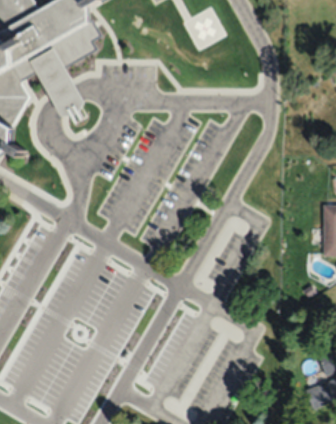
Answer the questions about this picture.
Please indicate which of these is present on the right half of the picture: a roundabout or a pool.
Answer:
pool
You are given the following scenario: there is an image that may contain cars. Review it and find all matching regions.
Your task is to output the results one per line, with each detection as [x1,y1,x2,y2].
[148,222,158,230]
[214,258,226,266]
[184,124,194,132]
[122,64,128,74]
[158,212,168,220]
[131,156,142,164]
[120,173,130,182]
[104,266,116,274]
[175,175,186,182]
[98,276,109,284]
[163,200,174,208]
[178,170,188,178]
[120,140,130,148]
[102,172,113,179]
[140,138,150,146]
[122,167,133,174]
[168,193,178,201]
[145,132,155,140]
[74,254,85,262]
[188,118,198,126]
[120,348,128,359]
[191,152,202,161]
[132,303,143,311]
[123,128,134,136]
[107,156,118,164]
[104,162,114,170]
